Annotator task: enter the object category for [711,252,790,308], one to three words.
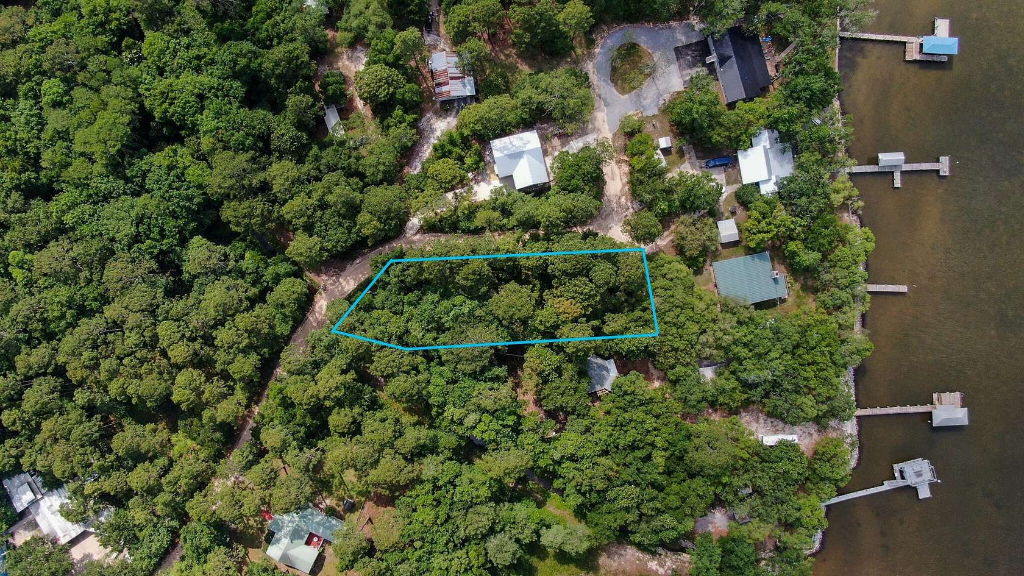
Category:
building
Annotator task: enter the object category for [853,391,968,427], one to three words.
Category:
pier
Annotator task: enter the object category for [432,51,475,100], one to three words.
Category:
house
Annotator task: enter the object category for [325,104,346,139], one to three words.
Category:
shed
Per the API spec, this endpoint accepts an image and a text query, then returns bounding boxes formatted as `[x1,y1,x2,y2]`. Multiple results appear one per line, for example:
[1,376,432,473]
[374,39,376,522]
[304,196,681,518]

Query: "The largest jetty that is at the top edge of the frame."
[839,19,958,63]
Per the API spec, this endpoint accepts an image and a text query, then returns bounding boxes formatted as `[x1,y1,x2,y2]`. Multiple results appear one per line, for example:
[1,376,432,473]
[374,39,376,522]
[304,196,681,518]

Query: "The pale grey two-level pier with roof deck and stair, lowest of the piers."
[820,455,938,506]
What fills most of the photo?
trees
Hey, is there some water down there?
Yes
